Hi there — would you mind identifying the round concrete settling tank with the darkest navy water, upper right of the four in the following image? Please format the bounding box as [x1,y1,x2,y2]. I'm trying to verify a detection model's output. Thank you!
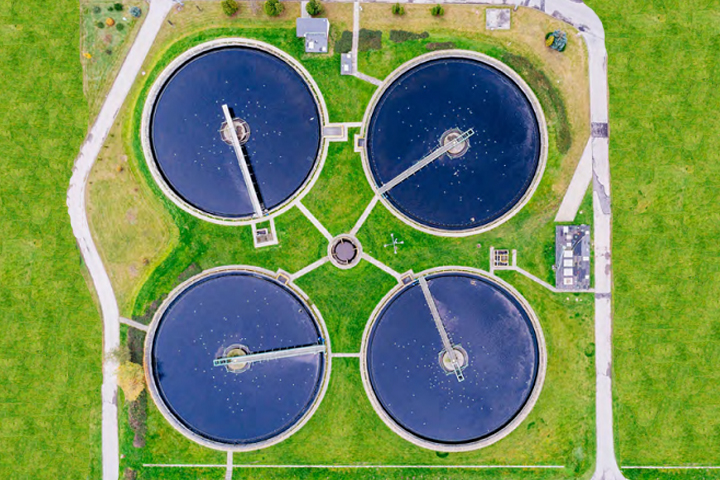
[368,55,544,231]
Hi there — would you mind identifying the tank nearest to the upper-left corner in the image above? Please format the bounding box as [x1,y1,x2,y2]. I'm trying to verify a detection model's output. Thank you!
[146,43,322,219]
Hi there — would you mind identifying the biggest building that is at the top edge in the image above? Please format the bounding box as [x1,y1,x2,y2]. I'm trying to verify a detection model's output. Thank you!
[297,15,330,53]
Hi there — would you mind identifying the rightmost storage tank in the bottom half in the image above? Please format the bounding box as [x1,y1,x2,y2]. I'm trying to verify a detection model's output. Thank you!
[366,272,542,448]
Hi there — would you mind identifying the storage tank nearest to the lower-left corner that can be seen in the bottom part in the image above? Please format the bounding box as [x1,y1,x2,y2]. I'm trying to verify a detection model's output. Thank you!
[148,271,324,447]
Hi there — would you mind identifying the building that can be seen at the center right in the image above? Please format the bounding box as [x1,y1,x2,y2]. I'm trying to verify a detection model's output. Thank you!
[555,225,591,290]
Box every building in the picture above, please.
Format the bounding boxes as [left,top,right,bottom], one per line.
[555,225,591,290]
[340,53,352,76]
[297,15,330,53]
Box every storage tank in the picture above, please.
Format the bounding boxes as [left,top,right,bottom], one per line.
[366,272,542,448]
[368,55,544,231]
[146,43,322,219]
[148,271,324,447]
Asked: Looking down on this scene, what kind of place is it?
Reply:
industrial area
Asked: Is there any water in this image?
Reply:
Yes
